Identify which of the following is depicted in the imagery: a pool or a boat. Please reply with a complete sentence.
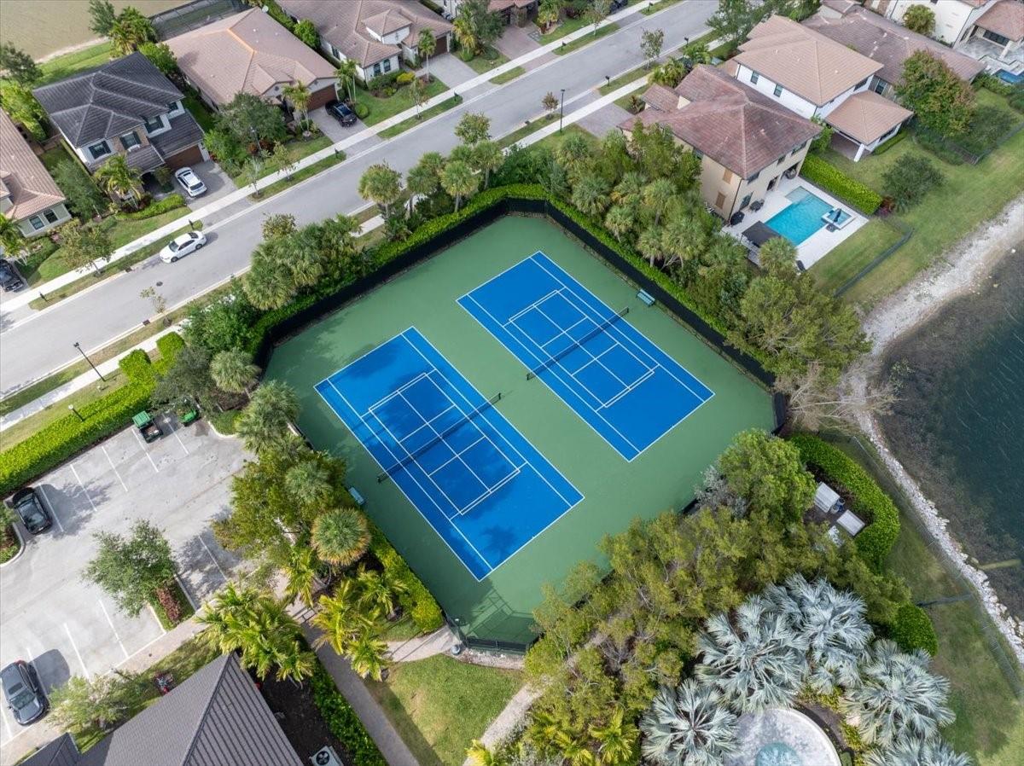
It is a pool that can be seen here.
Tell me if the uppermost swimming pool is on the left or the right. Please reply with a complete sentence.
The uppermost swimming pool appears in the right half of the scene.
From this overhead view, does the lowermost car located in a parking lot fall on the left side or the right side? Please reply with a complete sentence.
The lowermost car located in a parking lot sits on the left side.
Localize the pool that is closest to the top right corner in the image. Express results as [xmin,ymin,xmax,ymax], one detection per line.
[988,63,1024,90]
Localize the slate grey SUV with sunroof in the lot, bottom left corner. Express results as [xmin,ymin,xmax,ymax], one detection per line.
[0,663,50,735]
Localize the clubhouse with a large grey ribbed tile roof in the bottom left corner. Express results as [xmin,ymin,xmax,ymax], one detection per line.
[10,650,300,766]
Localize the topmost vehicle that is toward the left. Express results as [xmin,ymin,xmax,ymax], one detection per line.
[323,98,355,126]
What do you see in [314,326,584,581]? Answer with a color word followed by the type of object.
blue tennis court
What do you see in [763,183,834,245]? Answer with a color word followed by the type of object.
blue swimming pool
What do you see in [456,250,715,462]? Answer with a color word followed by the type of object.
blue tennis court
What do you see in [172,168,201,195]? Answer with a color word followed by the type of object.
white car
